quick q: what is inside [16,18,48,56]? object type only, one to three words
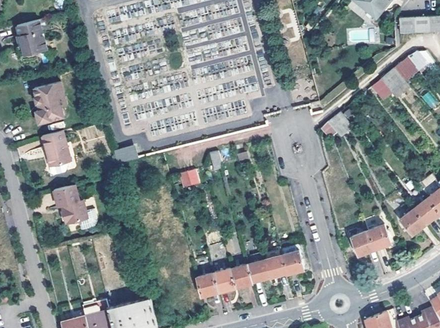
house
